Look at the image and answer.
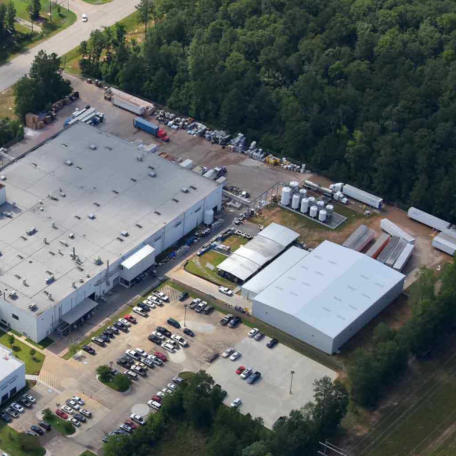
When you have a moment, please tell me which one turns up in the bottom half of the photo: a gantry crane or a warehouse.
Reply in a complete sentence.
It is a warehouse that can be seen in the bottom half of the photo.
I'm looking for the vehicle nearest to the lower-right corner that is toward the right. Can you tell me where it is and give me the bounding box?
[271,413,288,426]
